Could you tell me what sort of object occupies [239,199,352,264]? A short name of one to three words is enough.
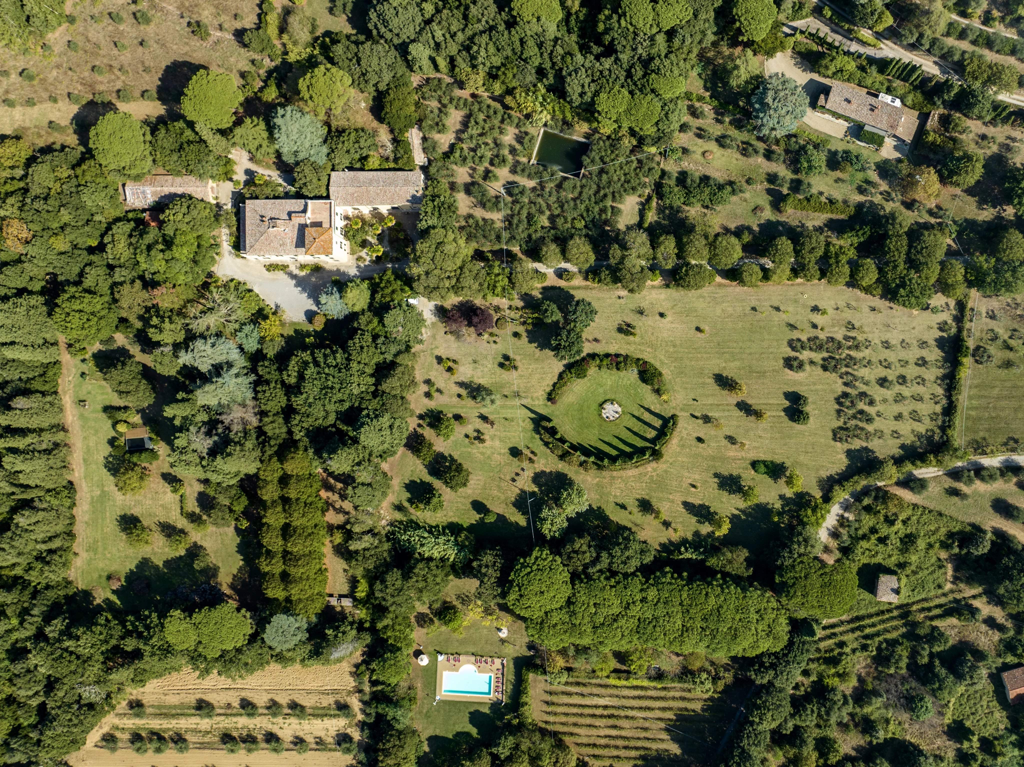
house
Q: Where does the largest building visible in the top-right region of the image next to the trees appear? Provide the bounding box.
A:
[816,82,919,145]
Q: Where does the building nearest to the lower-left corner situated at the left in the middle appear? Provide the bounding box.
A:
[126,423,158,452]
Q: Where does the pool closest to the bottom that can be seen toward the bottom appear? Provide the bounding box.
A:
[437,653,507,705]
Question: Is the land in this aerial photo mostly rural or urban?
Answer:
rural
